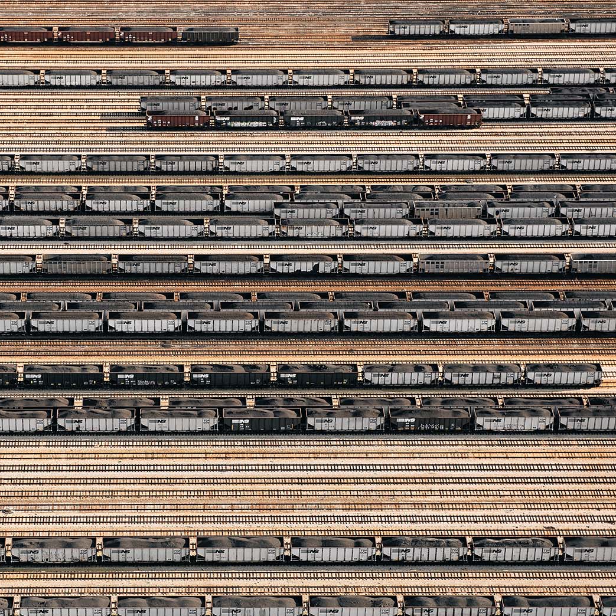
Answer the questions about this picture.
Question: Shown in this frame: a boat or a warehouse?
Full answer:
I can see a boat in this picture.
